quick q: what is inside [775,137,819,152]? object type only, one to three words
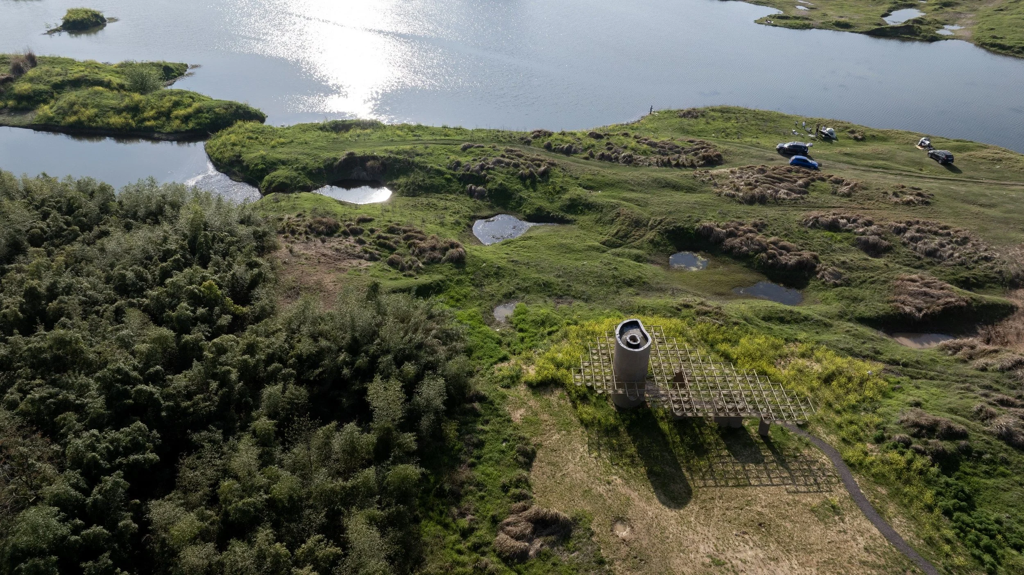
car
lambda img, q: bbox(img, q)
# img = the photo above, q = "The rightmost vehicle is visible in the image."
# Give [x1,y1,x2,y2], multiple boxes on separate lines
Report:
[928,146,957,163]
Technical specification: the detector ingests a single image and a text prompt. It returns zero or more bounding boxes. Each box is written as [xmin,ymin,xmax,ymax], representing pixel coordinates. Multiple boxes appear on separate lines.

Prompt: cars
[928,146,957,163]
[789,149,823,167]
[775,137,819,152]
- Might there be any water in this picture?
Yes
